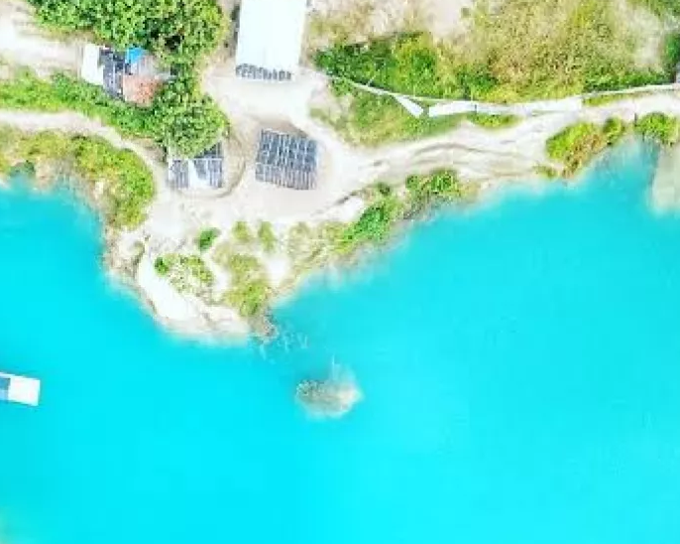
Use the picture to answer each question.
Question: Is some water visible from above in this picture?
Yes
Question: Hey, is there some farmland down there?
No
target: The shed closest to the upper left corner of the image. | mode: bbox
[81,45,103,87]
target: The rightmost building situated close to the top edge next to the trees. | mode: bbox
[235,0,307,81]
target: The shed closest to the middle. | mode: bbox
[255,129,318,189]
